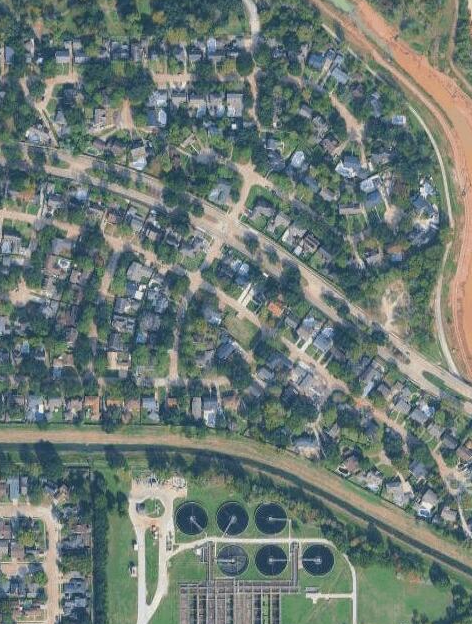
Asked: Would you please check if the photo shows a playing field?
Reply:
No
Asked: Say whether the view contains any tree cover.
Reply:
Yes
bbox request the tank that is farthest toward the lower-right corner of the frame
[301,544,334,577]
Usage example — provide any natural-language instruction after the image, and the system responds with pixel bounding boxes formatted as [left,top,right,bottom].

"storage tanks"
[176,501,208,534]
[301,544,334,577]
[255,544,292,577]
[217,501,249,535]
[214,544,249,577]
[255,501,292,534]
